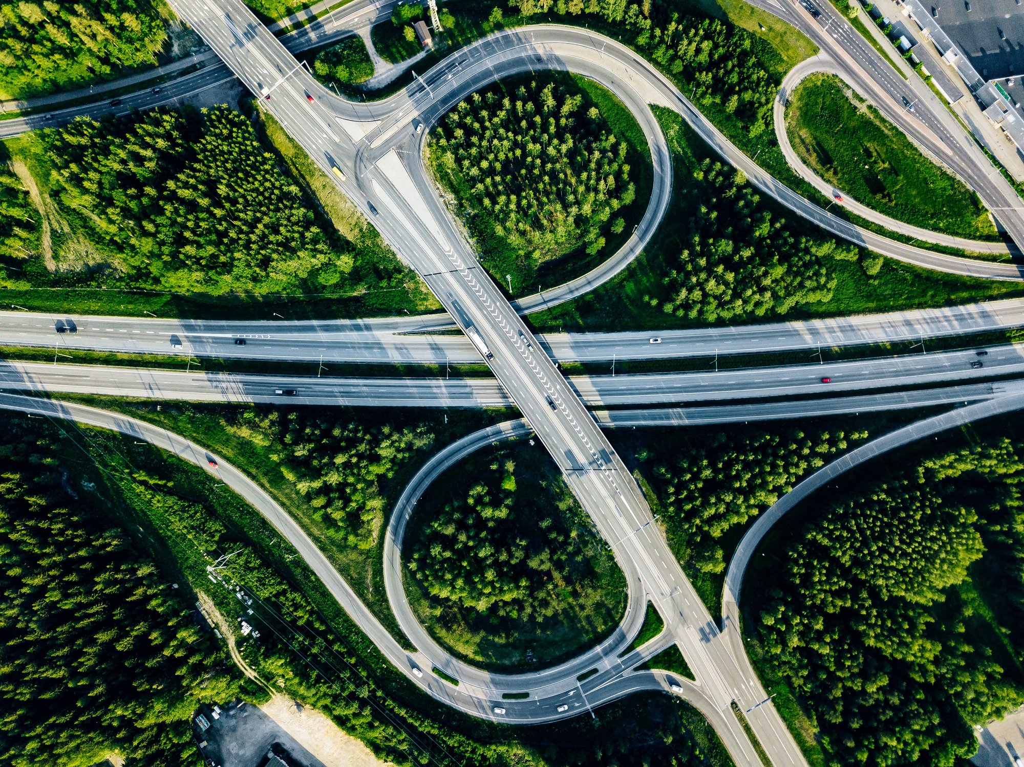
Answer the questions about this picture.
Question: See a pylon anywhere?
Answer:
Yes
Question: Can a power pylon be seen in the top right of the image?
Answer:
No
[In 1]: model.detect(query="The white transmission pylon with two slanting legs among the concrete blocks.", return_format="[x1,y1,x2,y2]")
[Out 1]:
[207,550,243,576]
